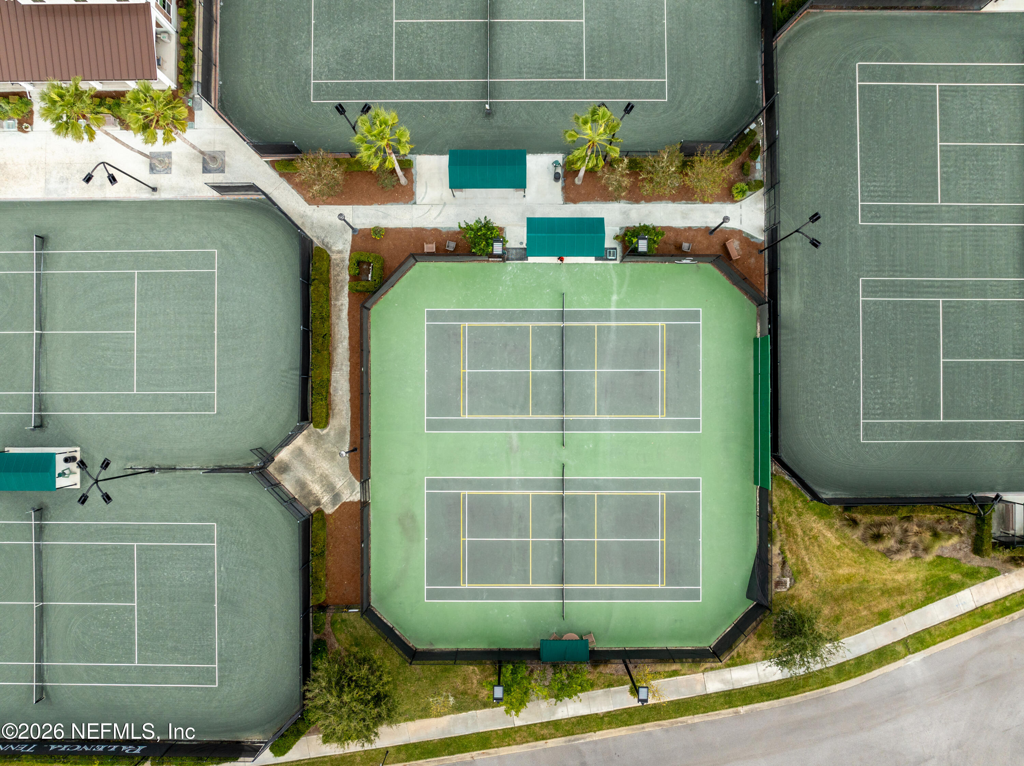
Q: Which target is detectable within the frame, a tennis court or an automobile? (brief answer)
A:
tennis court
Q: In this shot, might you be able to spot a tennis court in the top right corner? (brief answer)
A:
Yes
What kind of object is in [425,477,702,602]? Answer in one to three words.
sports court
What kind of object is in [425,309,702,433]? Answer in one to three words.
sports court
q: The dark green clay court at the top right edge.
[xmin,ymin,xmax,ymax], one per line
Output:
[766,12,1024,251]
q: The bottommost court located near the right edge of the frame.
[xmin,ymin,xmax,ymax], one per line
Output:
[773,251,1024,499]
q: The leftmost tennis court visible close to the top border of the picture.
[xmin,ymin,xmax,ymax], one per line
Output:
[219,0,763,156]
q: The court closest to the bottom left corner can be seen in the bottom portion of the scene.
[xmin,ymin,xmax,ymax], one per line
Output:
[0,468,310,739]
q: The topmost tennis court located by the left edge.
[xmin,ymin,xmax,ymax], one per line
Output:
[0,195,307,468]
